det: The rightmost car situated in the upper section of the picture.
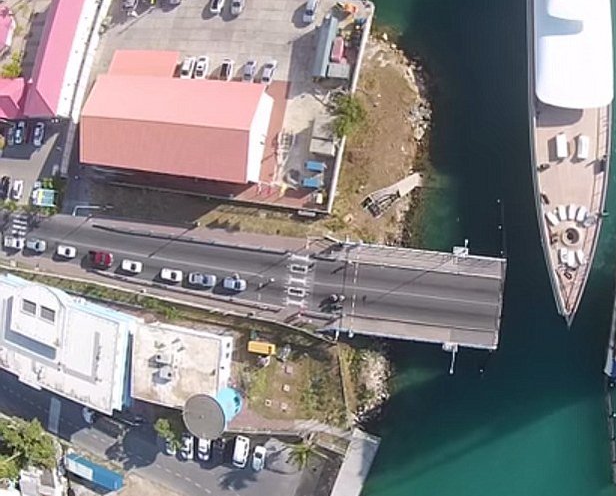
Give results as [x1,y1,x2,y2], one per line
[303,0,319,25]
